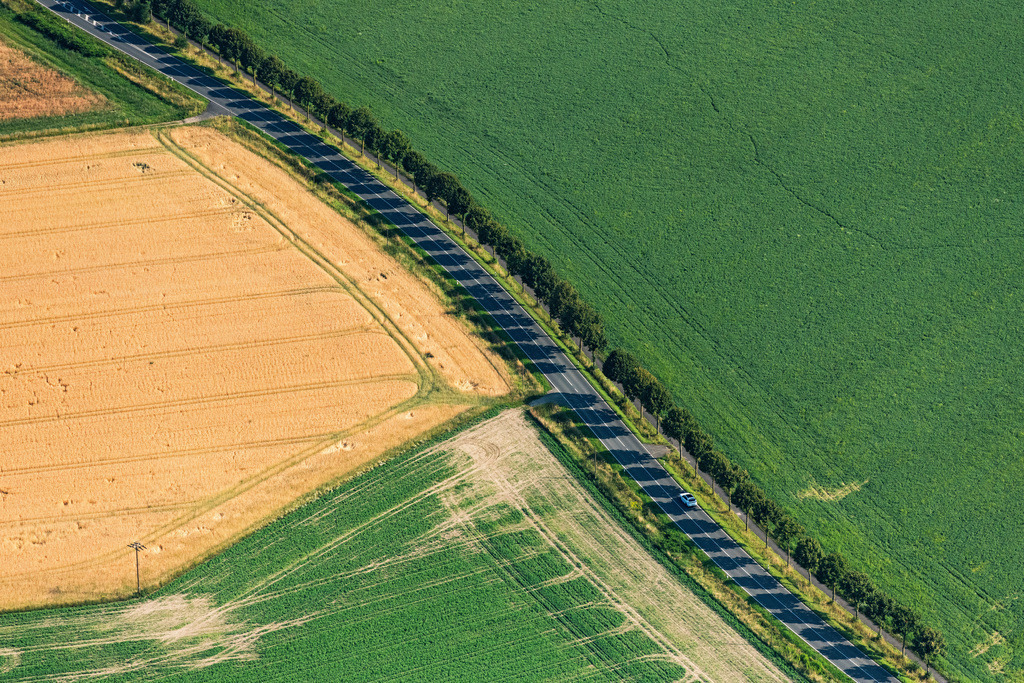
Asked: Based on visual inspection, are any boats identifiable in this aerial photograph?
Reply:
No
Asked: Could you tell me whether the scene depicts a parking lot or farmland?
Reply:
farmland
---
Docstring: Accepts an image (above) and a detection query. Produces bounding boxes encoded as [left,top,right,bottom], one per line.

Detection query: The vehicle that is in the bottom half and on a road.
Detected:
[680,493,697,508]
